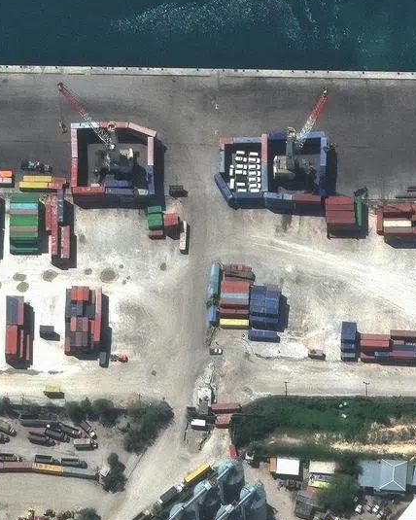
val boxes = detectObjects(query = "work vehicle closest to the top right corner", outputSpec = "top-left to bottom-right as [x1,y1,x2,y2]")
[355,180,375,199]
